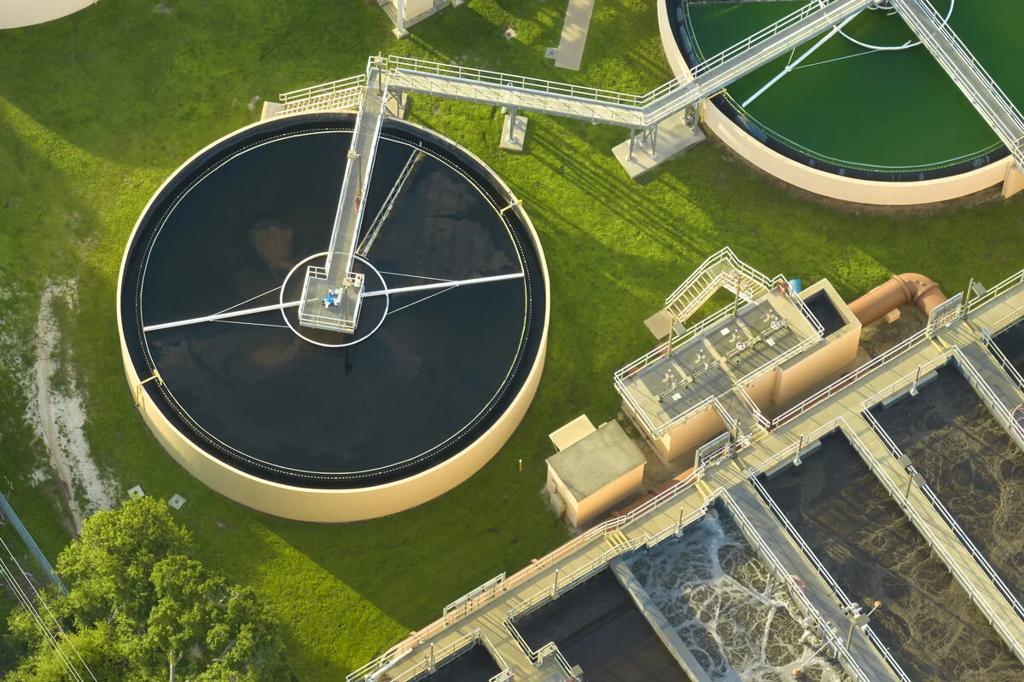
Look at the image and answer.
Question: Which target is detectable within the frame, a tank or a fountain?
tank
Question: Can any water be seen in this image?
Yes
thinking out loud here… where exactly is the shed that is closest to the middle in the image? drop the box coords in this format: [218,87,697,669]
[546,420,646,526]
